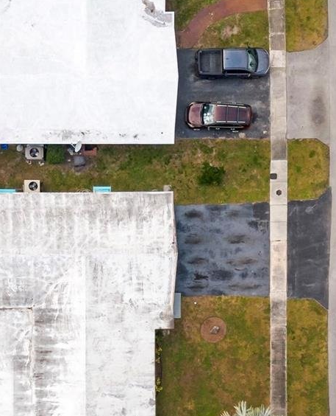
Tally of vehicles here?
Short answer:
2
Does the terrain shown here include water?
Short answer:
No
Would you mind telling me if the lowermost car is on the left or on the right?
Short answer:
right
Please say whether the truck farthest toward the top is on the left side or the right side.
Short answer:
right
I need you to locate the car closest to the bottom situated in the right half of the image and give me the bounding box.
[185,98,252,133]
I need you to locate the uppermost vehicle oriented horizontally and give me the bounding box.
[193,44,269,81]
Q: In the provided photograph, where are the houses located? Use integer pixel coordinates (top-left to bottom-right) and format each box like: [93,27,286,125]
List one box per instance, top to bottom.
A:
[0,0,180,145]
[0,186,182,416]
